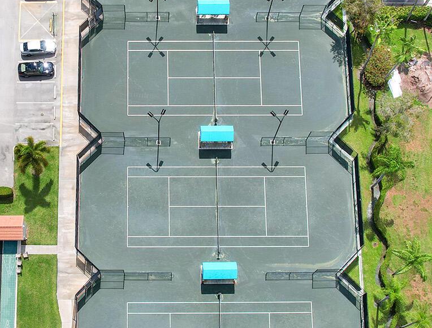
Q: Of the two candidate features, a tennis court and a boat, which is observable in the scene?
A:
tennis court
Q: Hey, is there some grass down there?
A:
Yes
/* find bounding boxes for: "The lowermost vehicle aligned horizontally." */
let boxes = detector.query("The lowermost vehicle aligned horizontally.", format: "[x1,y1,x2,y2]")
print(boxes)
[18,63,53,80]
